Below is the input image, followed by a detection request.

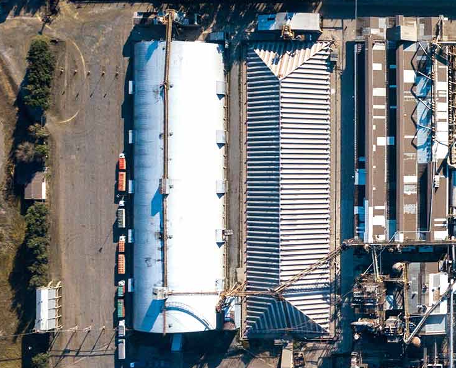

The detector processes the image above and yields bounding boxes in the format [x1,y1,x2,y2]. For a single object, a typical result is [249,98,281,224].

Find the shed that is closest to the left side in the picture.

[24,171,49,200]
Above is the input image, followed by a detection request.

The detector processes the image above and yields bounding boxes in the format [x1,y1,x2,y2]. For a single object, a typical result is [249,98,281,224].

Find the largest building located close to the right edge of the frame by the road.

[355,15,453,241]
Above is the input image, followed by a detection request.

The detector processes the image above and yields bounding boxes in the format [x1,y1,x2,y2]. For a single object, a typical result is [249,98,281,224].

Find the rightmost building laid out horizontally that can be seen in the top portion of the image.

[258,14,329,35]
